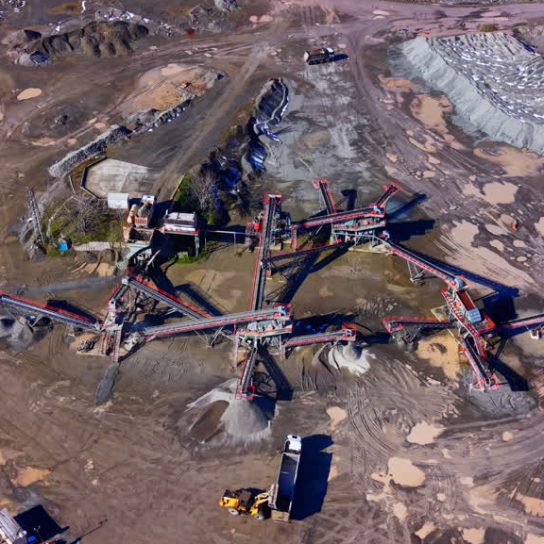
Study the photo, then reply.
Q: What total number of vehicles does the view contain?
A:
3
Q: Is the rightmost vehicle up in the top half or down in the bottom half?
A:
top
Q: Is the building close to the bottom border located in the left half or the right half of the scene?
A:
left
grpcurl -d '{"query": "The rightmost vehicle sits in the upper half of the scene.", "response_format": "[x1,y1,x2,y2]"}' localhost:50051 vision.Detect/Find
[304,46,335,66]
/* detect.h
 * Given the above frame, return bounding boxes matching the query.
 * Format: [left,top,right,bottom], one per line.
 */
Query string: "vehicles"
[217,490,281,522]
[304,46,335,66]
[270,437,303,520]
